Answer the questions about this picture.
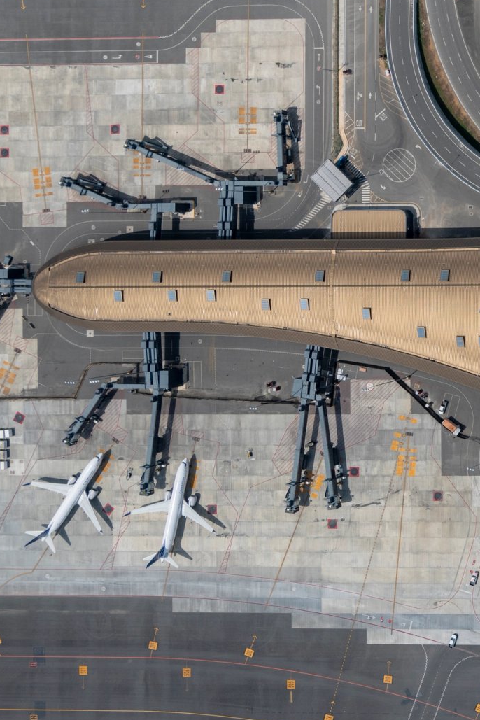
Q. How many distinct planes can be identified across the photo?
2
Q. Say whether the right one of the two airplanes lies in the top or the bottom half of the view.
bottom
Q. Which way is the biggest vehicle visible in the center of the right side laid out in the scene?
diagonally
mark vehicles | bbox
[413,388,421,397]
[440,399,449,415]
[440,416,465,436]
[270,385,280,392]
[469,571,479,585]
[448,634,459,648]
[265,382,273,387]
[243,450,251,458]
[343,68,352,74]
[424,402,432,409]
[384,68,390,78]
[419,392,428,399]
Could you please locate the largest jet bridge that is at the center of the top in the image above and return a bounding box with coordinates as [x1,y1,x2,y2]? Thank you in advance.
[124,109,301,240]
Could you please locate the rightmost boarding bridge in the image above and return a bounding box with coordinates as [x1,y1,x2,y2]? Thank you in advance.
[285,345,352,519]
